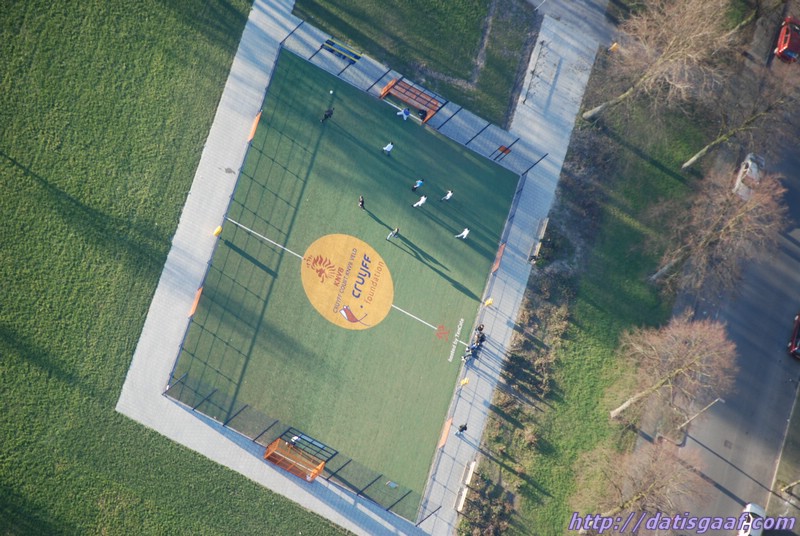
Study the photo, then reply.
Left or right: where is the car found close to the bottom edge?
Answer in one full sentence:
It is on the right.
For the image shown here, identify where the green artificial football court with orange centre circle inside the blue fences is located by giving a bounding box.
[163,44,522,526]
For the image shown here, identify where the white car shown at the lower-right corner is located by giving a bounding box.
[738,503,765,536]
